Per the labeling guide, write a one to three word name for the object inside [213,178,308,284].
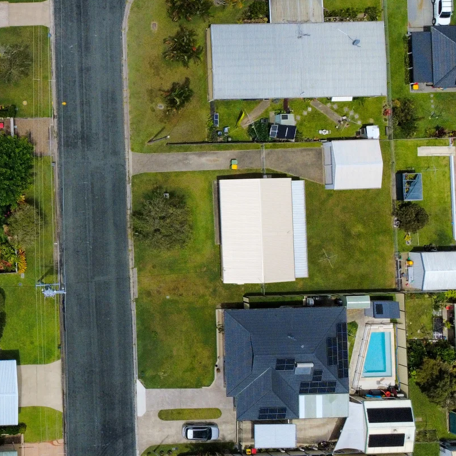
house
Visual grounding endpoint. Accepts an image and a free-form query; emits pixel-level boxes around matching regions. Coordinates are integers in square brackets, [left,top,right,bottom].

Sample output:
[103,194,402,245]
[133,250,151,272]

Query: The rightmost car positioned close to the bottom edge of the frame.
[181,423,219,442]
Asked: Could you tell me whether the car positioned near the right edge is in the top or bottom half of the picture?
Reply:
top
